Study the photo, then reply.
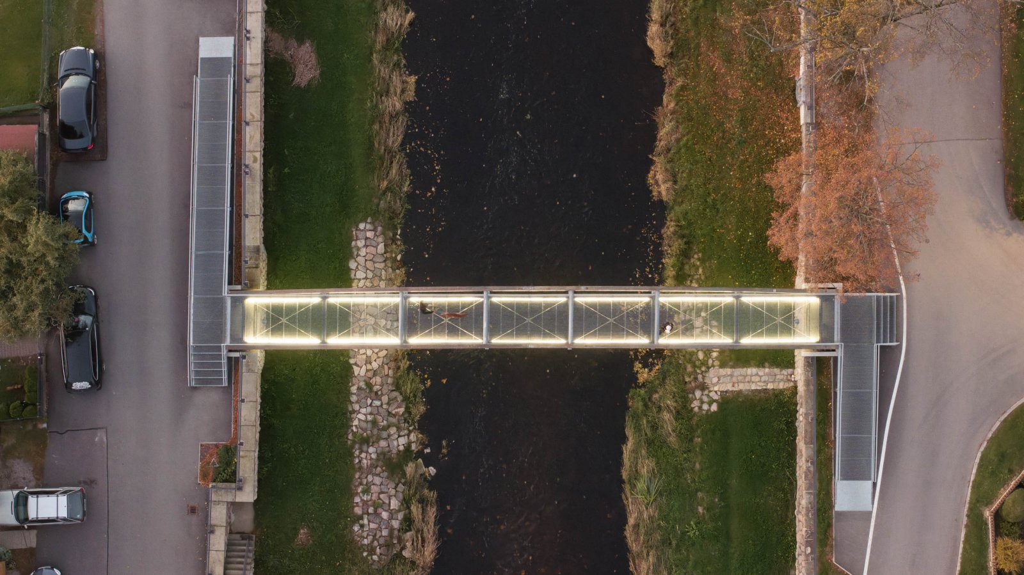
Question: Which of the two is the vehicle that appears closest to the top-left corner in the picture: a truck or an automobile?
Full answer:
From above, the vehicle that appears closest to the top-left corner can be identified as an automobile.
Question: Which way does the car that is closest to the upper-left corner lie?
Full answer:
The car that is closest to the upper-left corner runs up and down in the image.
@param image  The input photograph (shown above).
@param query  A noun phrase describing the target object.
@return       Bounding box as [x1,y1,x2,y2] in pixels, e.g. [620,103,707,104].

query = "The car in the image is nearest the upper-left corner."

[50,46,99,149]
